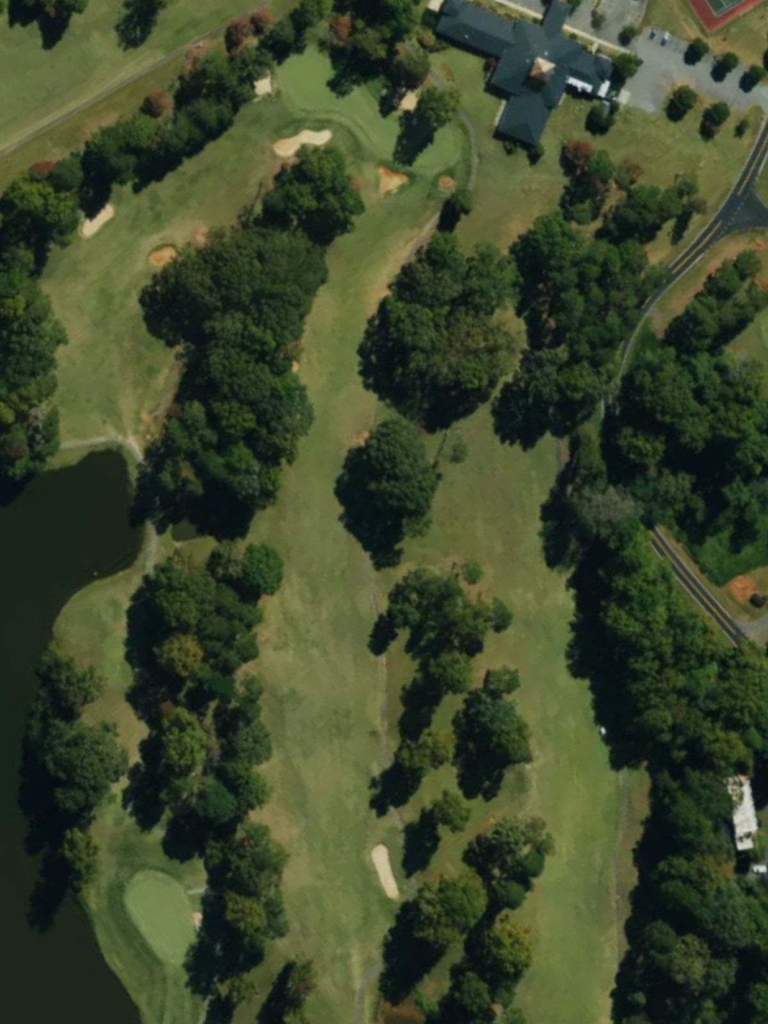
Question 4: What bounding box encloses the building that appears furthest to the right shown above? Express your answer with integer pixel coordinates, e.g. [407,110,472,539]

[731,773,757,851]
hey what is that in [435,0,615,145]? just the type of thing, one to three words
building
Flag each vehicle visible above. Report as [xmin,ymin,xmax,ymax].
[661,31,669,44]
[649,29,656,40]
[754,866,766,872]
